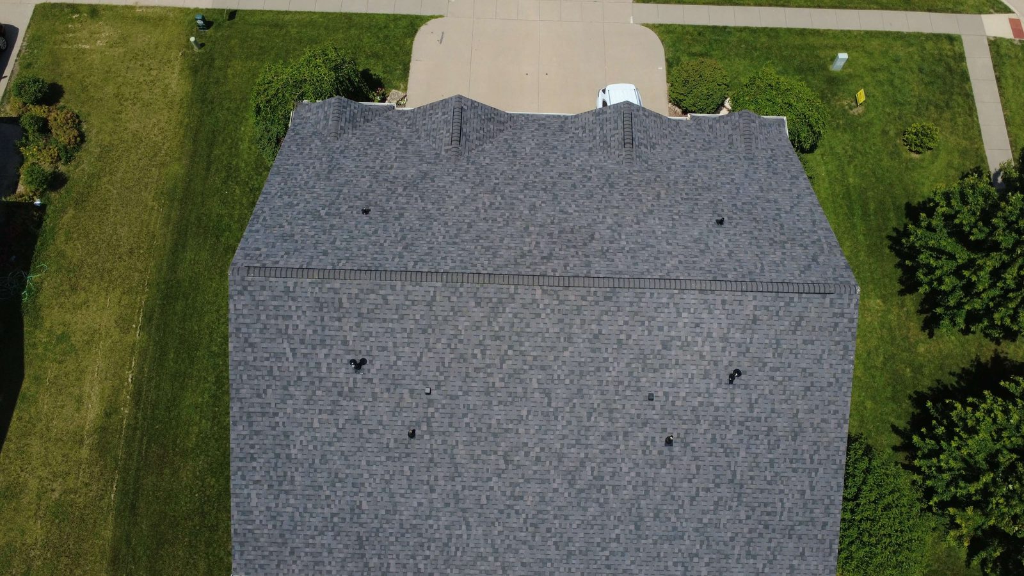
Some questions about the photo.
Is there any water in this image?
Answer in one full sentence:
No, the picture contains no water.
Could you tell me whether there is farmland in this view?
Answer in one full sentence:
No, no farmland is visible.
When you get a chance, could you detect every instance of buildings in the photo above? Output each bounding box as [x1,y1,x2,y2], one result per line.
[229,96,859,576]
